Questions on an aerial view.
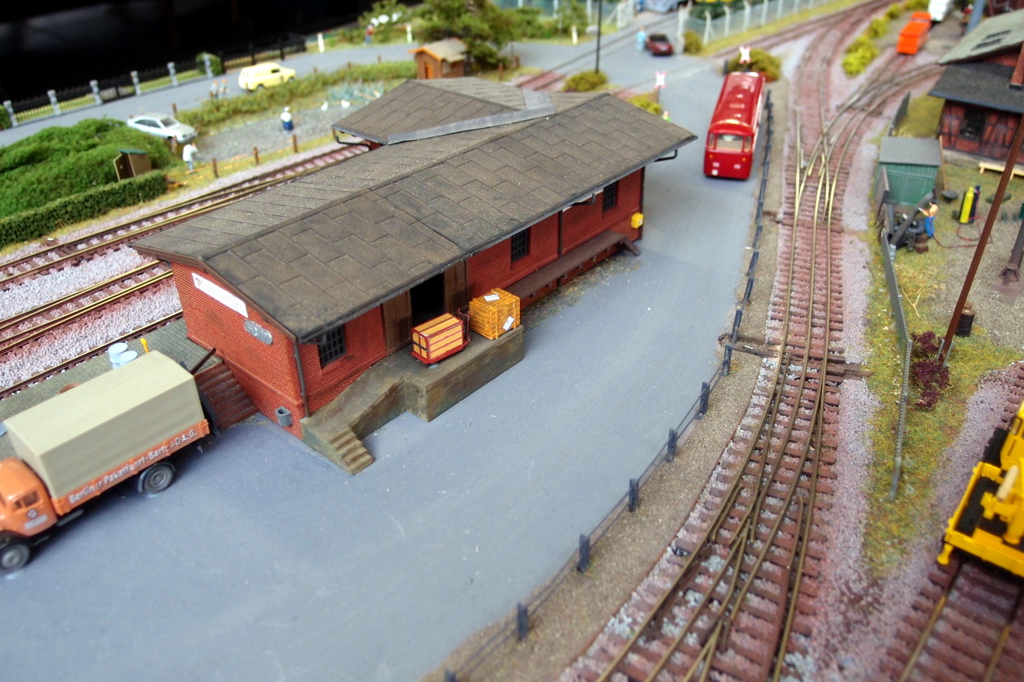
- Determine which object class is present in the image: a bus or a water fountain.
bus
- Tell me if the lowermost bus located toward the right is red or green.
red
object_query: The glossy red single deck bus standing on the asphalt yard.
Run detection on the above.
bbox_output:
[706,75,768,177]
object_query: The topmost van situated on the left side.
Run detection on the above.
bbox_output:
[230,58,298,92]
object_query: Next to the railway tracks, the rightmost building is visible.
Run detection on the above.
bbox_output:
[936,5,1024,184]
